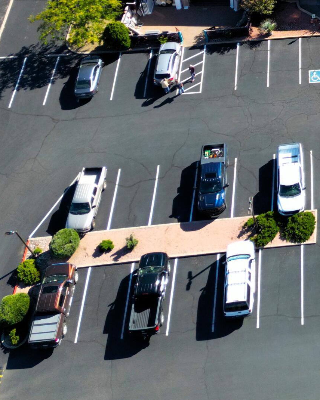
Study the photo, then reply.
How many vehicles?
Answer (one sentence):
Altogether the scene contains 8 vehicles.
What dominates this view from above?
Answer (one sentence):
The scene is dominated by paved ground.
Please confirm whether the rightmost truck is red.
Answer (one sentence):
No, the color of the rightmost truck is white.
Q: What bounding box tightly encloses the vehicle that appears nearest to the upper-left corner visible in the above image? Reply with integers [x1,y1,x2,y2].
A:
[72,54,104,99]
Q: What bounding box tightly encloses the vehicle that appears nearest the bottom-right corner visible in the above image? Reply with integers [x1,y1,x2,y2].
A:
[221,242,255,317]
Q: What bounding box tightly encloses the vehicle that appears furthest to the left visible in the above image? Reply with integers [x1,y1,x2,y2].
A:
[23,262,73,351]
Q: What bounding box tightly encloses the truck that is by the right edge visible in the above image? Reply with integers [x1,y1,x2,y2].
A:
[273,139,306,214]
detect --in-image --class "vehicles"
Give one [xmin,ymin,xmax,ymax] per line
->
[65,161,108,233]
[23,262,73,351]
[72,54,104,99]
[151,41,182,84]
[195,141,227,213]
[221,242,255,317]
[273,139,306,214]
[129,249,170,338]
